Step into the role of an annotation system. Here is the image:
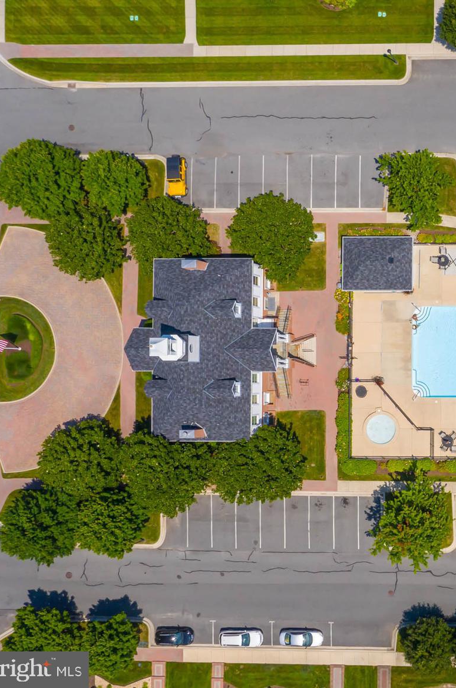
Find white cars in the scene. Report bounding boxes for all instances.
[219,627,263,649]
[279,628,324,649]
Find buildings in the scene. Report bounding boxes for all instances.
[342,236,416,293]
[123,257,319,443]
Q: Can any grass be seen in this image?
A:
Yes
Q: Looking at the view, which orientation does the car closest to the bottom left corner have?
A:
from side to side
